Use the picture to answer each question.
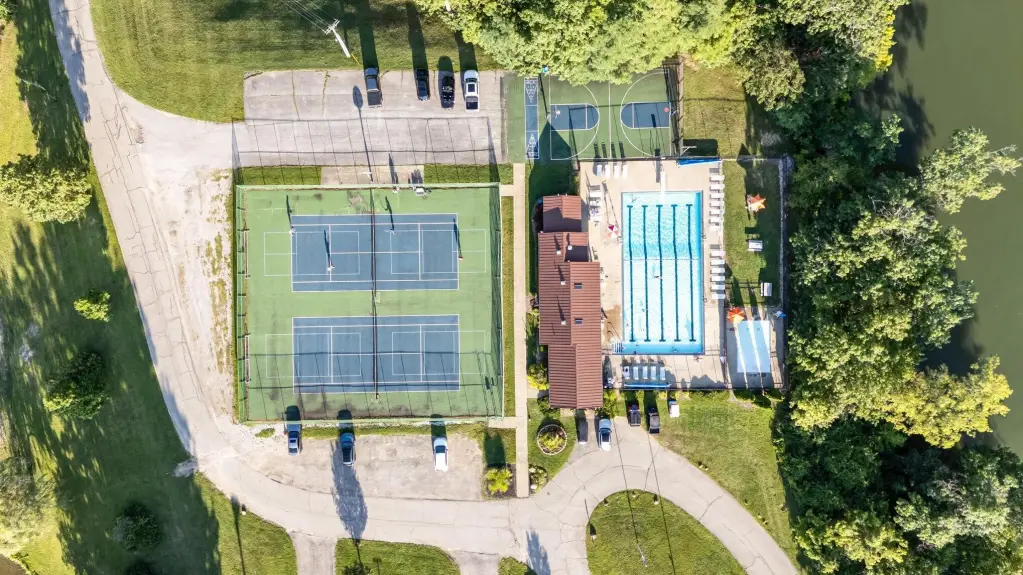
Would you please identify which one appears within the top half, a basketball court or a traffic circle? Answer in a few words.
basketball court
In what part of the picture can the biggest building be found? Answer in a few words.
center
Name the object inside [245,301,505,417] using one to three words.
tennis court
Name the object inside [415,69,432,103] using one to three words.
car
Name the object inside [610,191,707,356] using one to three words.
swimming pool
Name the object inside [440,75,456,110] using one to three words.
car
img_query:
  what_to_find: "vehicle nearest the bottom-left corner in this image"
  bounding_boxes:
[286,422,303,455]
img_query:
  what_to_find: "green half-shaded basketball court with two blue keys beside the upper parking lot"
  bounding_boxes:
[507,66,680,160]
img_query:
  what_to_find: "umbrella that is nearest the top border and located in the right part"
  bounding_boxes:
[746,195,766,215]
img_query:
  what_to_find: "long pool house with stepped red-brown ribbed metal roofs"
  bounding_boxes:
[537,194,603,411]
